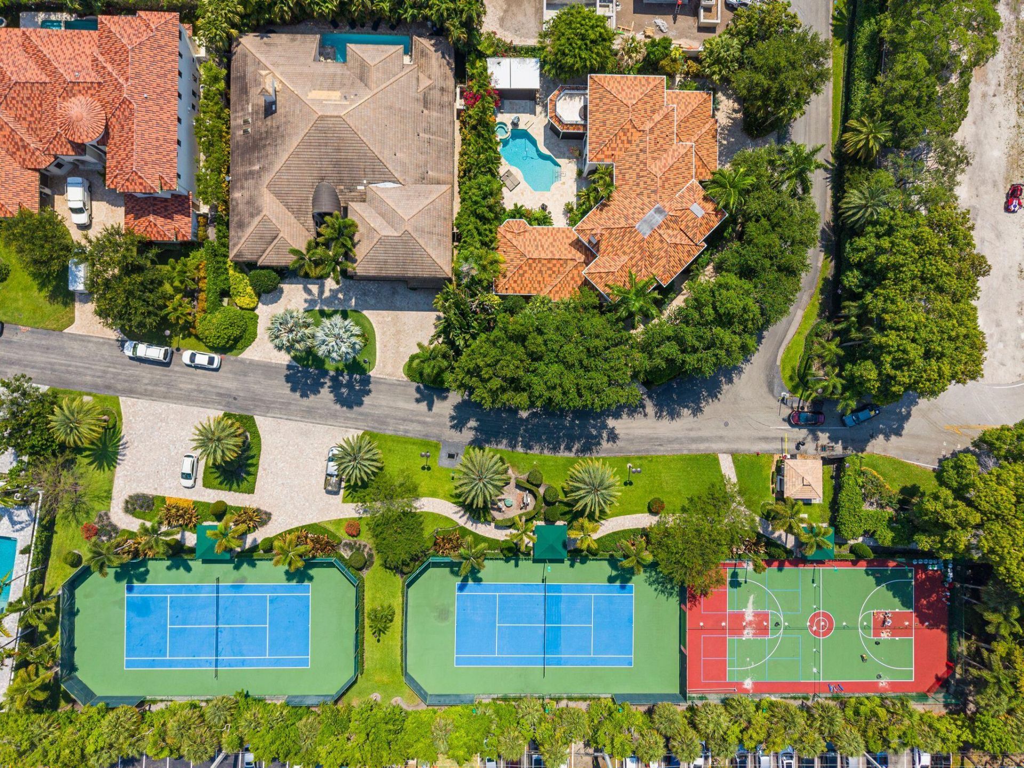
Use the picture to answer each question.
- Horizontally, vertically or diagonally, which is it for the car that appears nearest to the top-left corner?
vertically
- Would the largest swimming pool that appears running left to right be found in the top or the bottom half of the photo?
top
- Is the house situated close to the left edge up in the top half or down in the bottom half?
top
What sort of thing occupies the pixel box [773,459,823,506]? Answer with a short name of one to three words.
building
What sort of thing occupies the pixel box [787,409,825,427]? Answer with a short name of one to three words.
car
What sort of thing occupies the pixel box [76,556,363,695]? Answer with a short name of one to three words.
tennis court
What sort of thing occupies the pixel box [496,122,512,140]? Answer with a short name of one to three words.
swimming pool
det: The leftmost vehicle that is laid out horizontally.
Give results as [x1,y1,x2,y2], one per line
[125,341,174,363]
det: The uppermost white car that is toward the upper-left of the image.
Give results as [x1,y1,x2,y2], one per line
[70,178,94,226]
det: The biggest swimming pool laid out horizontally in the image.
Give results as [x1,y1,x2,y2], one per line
[319,32,412,63]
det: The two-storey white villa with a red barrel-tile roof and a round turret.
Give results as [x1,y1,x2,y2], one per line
[0,10,204,242]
